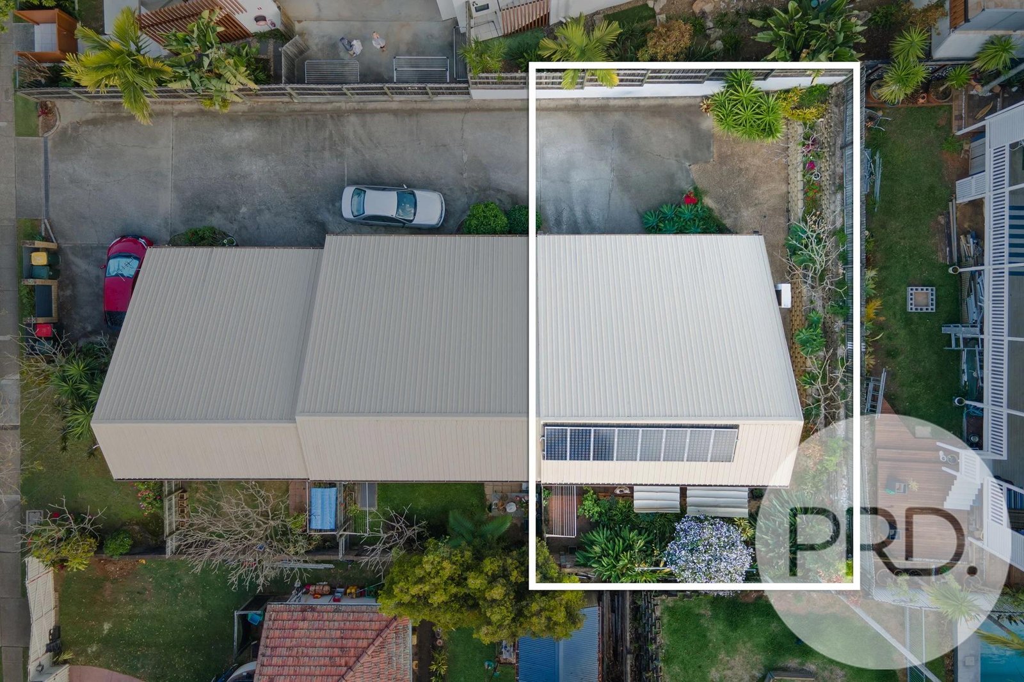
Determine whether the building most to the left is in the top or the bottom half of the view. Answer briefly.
top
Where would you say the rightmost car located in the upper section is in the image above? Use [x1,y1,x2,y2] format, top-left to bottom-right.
[344,185,444,228]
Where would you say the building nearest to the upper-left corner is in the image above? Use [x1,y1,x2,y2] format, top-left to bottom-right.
[12,5,77,63]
